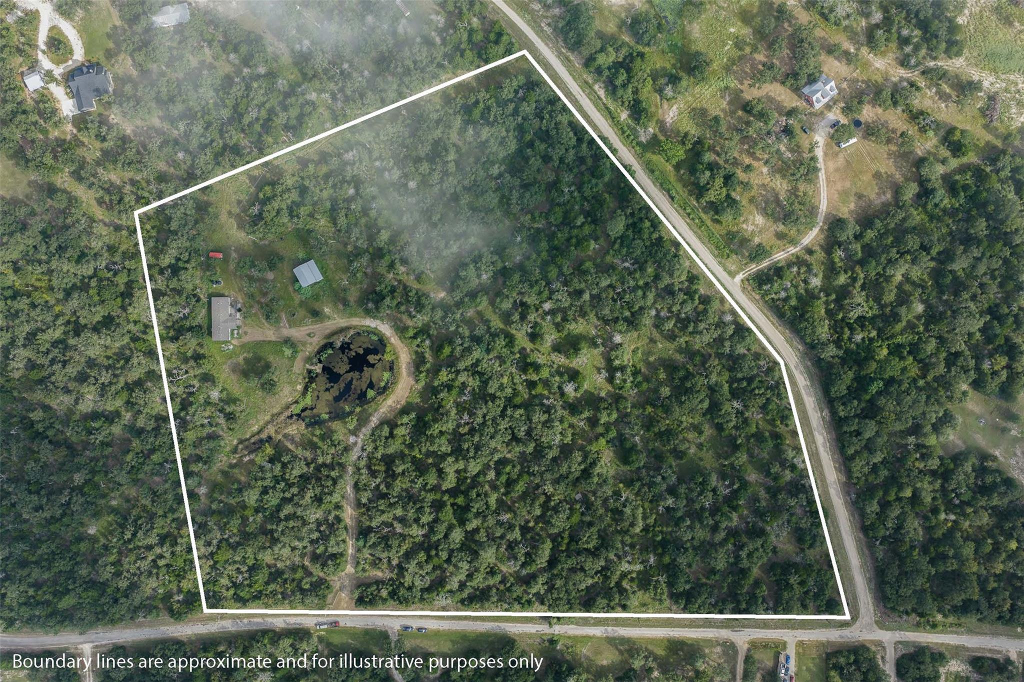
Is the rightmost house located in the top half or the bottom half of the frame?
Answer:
top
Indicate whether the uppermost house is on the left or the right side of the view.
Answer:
left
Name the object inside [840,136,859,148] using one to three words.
vehicle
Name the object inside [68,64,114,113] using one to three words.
house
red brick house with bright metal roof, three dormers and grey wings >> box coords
[799,74,838,112]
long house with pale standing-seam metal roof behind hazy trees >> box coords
[150,3,191,29]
